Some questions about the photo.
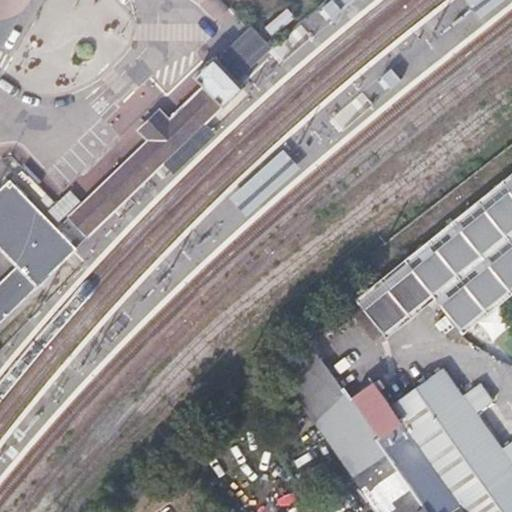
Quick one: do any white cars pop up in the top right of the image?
No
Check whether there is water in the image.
No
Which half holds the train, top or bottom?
bottom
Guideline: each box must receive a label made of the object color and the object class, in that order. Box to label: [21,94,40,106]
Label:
white vehicle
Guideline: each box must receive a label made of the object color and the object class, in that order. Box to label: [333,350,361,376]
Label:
white truck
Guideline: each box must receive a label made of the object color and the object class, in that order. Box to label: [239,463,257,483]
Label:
white vehicle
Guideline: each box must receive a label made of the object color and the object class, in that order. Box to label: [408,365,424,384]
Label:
white car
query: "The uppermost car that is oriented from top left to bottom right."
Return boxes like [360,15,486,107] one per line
[199,16,218,36]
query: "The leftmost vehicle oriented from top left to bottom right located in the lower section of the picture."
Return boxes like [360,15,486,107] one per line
[208,458,227,480]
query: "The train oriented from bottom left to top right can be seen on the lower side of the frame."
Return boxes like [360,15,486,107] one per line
[0,273,102,402]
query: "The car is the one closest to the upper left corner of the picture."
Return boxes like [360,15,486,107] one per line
[4,28,20,48]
